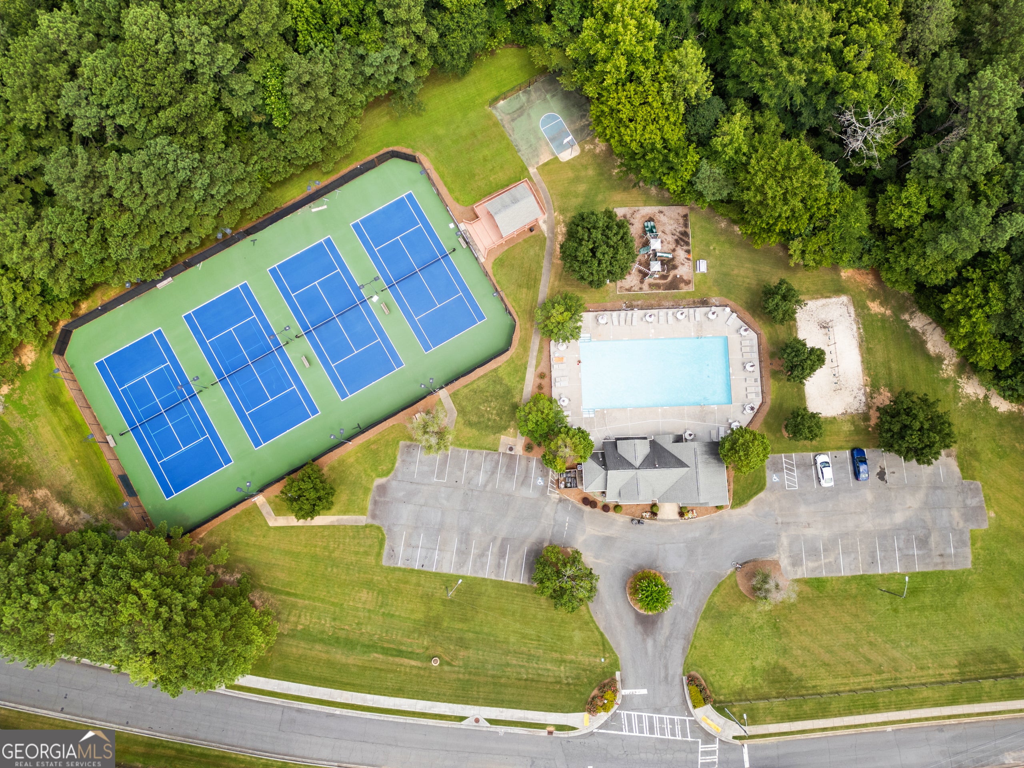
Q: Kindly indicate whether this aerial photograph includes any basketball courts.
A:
Yes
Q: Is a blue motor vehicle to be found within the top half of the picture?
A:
No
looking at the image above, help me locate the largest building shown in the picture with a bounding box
[582,433,729,506]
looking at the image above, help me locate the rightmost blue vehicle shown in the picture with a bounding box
[851,449,869,480]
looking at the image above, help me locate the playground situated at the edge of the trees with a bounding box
[613,205,695,294]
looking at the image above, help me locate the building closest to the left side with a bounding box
[464,178,546,258]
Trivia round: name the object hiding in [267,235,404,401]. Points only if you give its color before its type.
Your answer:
blue tennis court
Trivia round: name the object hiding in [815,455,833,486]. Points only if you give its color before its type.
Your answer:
white car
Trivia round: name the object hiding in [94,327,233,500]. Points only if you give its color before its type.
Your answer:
blue tennis court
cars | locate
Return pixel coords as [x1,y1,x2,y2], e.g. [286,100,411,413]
[815,455,833,486]
[851,449,869,480]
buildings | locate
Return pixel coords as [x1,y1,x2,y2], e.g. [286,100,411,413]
[464,178,546,258]
[582,433,729,506]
